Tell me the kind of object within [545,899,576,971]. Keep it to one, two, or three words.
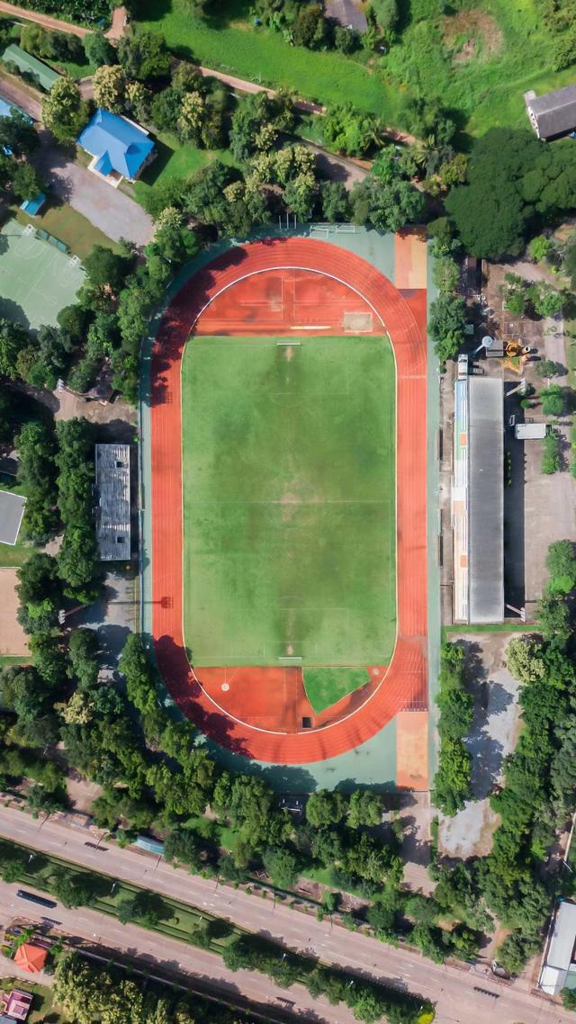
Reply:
house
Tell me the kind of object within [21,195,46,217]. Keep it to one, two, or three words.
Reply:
building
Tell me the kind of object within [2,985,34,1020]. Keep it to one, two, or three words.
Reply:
house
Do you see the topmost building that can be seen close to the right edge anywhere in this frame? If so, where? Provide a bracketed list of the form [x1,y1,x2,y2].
[527,88,576,138]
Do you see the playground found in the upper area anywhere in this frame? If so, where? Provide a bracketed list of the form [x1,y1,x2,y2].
[500,338,529,375]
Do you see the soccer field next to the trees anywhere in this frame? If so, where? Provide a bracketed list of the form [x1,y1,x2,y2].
[183,336,395,667]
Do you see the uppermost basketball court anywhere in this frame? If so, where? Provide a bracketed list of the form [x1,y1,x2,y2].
[0,218,90,342]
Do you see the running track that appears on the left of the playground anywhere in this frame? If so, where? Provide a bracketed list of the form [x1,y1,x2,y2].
[139,222,440,792]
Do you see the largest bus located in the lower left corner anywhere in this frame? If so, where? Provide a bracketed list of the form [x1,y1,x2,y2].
[17,887,57,910]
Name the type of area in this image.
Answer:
sports ground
